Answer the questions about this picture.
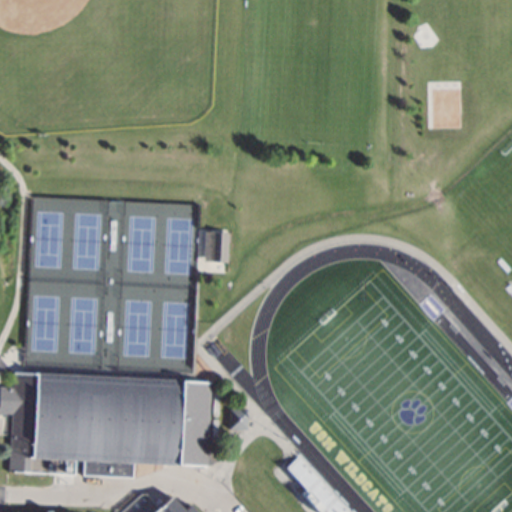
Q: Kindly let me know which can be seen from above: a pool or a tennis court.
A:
tennis court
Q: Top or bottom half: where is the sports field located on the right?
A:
bottom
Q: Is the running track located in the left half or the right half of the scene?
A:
right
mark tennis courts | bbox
[122,300,152,358]
[126,216,156,274]
[30,296,60,353]
[68,297,98,354]
[35,212,64,270]
[164,218,193,275]
[160,301,190,359]
[73,213,102,271]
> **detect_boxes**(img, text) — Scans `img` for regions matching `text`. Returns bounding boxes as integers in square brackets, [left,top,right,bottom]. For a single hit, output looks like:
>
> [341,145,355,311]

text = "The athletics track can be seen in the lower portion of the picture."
[249,245,512,512]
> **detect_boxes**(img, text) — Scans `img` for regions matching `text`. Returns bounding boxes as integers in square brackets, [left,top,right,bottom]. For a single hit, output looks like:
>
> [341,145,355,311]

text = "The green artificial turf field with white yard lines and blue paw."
[267,260,512,512]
